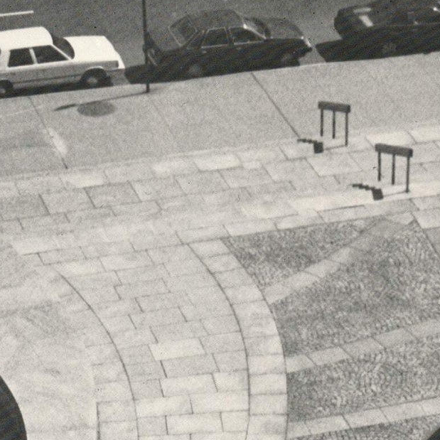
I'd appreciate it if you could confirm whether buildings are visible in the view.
No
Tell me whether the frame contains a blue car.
No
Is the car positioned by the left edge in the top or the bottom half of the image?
top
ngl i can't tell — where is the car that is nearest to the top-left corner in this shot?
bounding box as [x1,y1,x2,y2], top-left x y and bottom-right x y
[0,23,127,98]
